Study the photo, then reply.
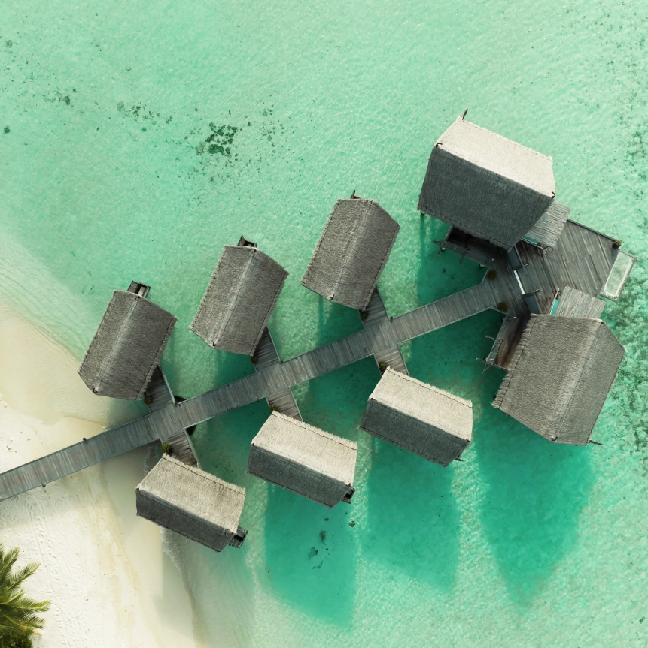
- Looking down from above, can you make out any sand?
Yes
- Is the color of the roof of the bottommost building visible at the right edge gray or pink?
gray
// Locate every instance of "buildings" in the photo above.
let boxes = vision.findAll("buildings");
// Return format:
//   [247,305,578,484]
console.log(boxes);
[418,108,561,267]
[248,410,358,508]
[474,313,624,444]
[190,237,289,356]
[132,453,248,552]
[363,366,475,465]
[301,190,401,307]
[78,281,177,400]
